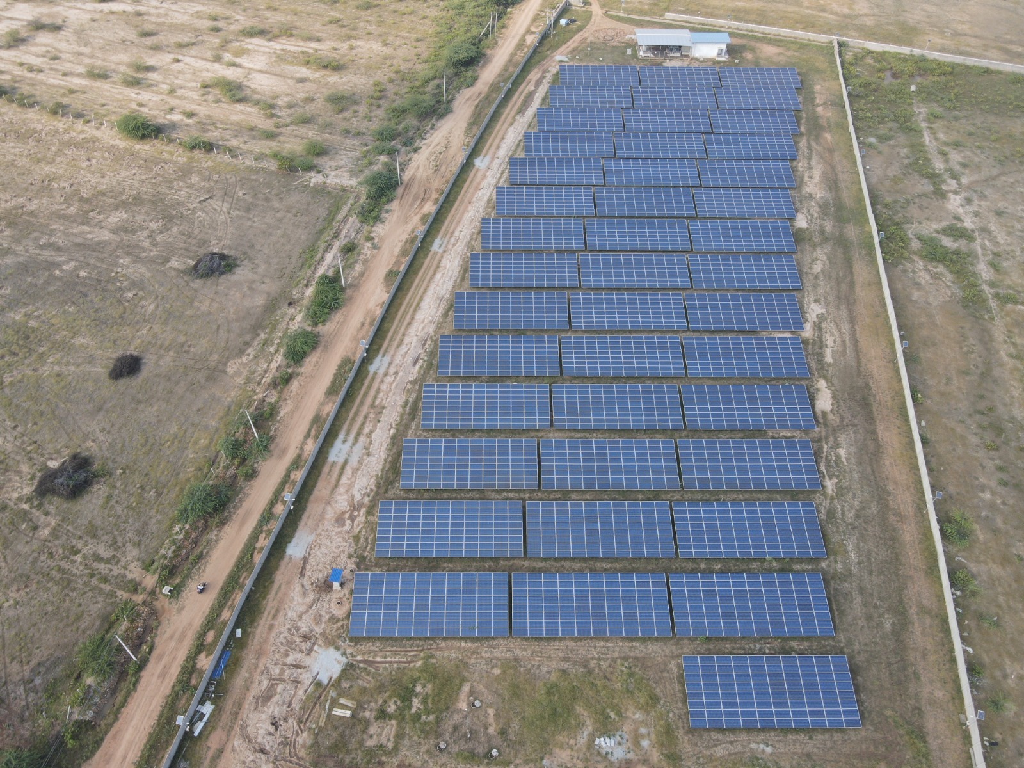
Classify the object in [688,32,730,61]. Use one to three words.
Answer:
building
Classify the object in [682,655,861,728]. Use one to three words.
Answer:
solar array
